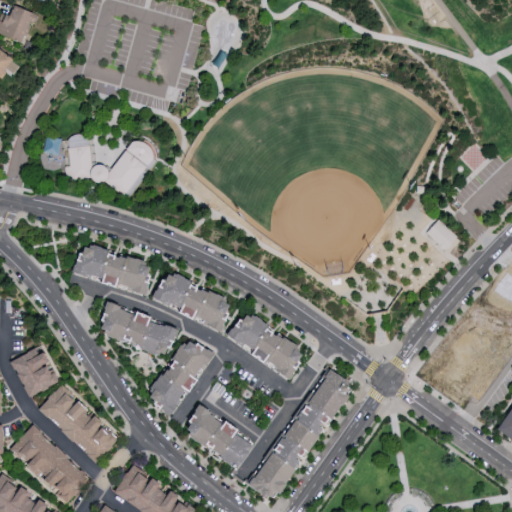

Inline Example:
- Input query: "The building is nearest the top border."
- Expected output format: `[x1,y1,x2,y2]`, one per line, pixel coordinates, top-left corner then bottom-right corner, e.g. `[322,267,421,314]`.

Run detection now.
[0,4,38,46]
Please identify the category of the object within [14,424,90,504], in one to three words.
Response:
house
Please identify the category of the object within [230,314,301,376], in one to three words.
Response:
house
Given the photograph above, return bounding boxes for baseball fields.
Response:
[182,66,442,276]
